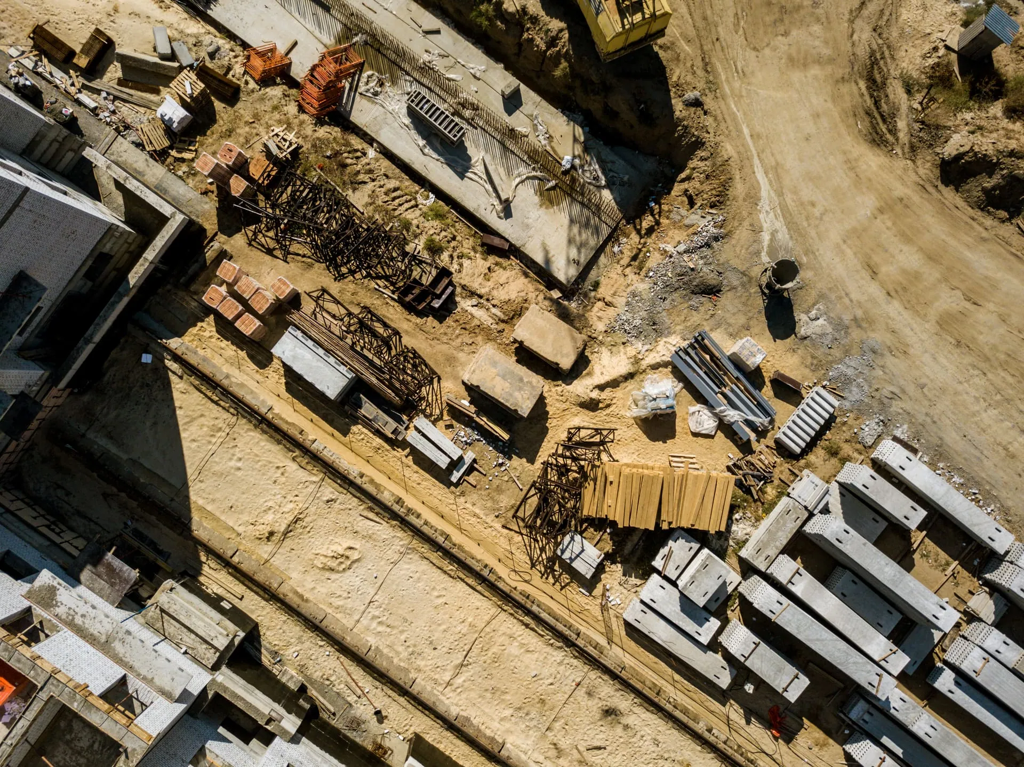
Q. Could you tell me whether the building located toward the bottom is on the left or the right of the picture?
left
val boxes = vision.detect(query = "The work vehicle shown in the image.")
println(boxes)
[556,0,673,65]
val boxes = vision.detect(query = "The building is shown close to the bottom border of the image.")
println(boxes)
[0,477,393,767]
